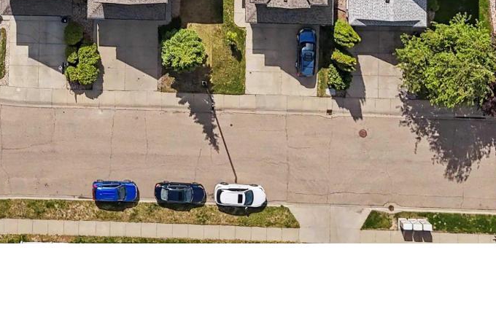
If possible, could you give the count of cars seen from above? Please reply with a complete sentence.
The count of cars comes to 4.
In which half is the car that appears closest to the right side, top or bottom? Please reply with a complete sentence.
The car that appears closest to the right side sits in the top half of the picture.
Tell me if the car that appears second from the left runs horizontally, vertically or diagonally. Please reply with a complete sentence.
In this picture, the car that appears second from the left lies horizontally.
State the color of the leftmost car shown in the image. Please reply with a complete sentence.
From above, the leftmost car appears blue.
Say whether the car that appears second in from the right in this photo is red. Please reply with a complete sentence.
No, the car that appears second in from the right is actually white.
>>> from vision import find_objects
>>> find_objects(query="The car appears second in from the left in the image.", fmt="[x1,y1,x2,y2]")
[154,181,204,206]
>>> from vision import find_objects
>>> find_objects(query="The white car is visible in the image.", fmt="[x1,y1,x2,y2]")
[214,182,265,210]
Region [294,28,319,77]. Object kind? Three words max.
car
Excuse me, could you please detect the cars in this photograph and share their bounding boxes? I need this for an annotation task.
[154,181,204,206]
[214,182,265,210]
[294,28,319,77]
[92,179,138,204]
